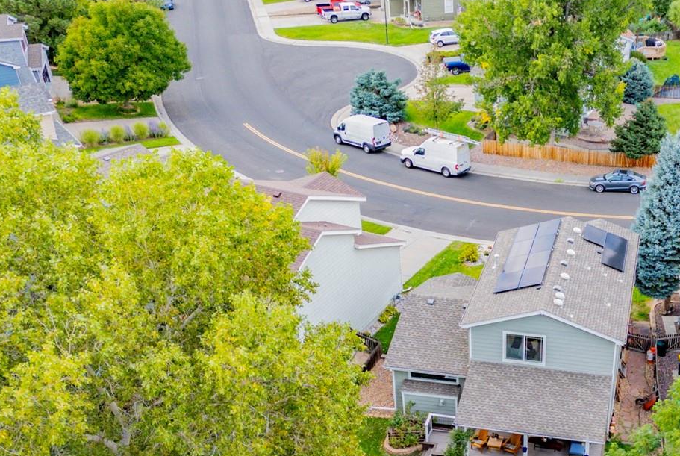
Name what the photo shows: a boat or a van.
van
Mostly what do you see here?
trees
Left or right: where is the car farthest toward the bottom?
right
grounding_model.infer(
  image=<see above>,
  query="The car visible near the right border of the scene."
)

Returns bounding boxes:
[587,169,649,195]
